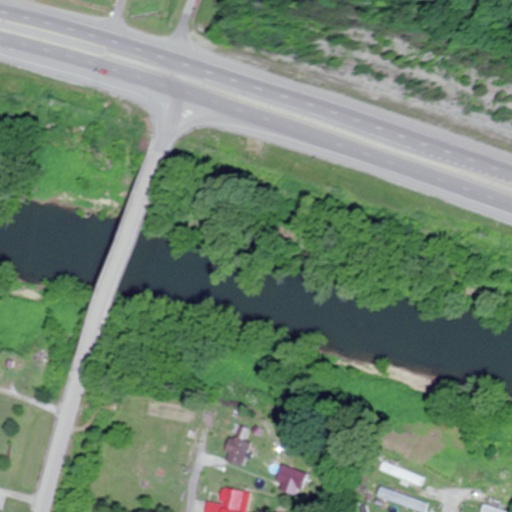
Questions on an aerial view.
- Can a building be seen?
Yes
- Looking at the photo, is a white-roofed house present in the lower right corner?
Yes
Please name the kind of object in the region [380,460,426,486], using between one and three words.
house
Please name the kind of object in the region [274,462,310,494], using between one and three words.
house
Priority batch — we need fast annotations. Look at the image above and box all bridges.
[78,152,164,347]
